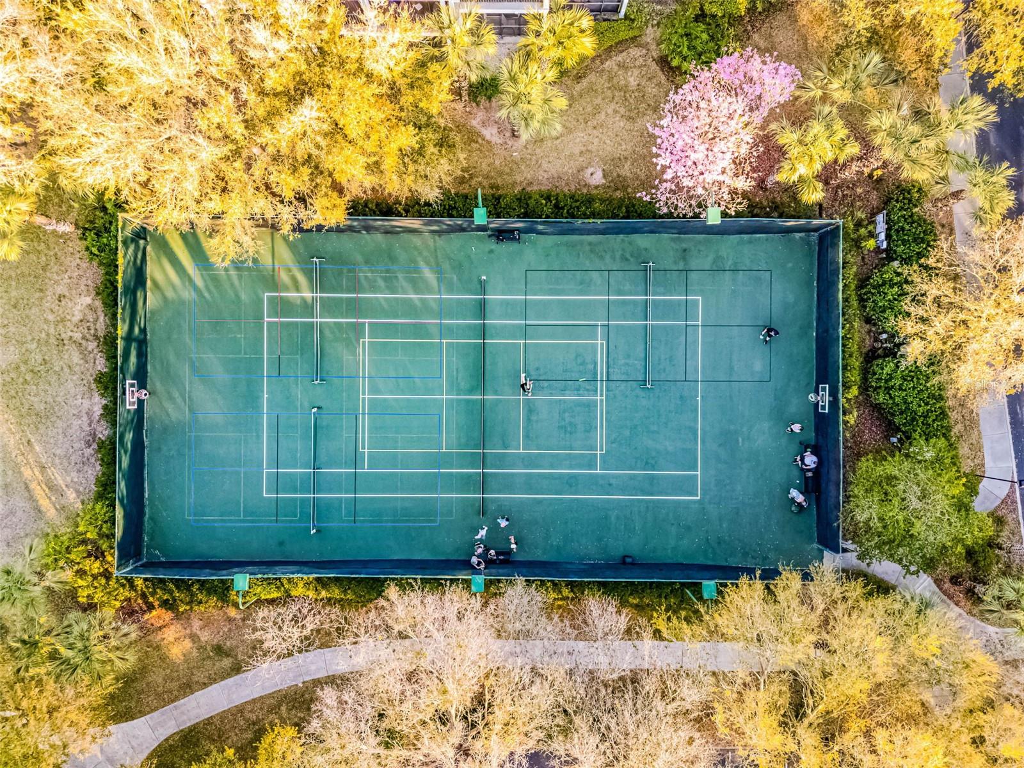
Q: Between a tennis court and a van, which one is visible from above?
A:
tennis court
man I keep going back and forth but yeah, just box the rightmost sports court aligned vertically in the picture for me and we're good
[343,274,456,519]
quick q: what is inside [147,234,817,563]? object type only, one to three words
tennis court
